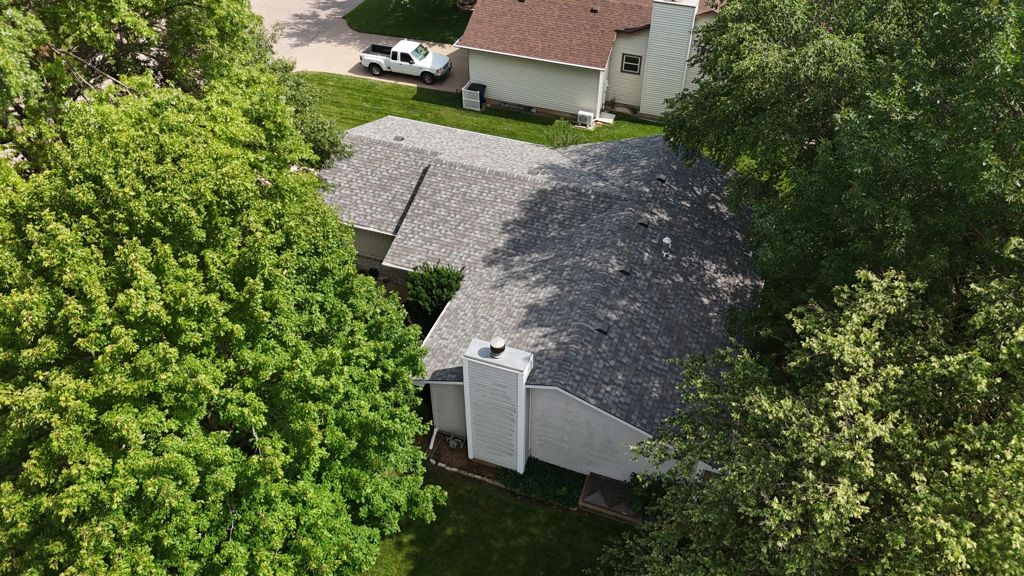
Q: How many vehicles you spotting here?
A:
one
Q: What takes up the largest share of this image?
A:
trees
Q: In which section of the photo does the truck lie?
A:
top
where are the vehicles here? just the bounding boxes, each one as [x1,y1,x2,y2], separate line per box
[358,39,455,84]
